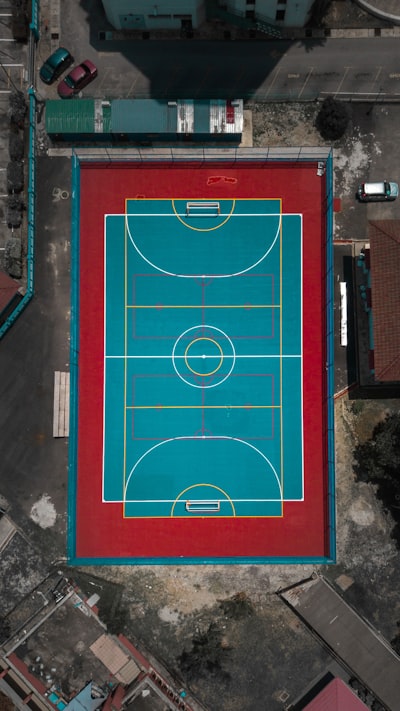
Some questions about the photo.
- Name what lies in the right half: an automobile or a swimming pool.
automobile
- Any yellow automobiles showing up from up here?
No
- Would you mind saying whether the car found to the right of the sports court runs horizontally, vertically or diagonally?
horizontally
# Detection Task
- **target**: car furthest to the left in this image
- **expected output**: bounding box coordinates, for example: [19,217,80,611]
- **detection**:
[39,46,76,86]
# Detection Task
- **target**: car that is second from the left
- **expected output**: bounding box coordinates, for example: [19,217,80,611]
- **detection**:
[58,59,99,99]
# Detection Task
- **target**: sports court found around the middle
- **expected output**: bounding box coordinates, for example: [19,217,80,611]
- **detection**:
[76,162,329,556]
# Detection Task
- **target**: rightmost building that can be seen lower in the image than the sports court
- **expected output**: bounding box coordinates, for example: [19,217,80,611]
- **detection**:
[270,647,374,711]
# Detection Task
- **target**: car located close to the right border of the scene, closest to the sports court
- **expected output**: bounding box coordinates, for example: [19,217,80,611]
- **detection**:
[358,181,399,201]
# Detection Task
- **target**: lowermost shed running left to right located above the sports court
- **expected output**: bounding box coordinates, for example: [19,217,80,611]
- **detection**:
[44,98,242,144]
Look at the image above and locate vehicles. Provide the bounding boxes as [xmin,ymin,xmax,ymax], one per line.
[358,181,399,201]
[58,59,99,99]
[39,46,76,86]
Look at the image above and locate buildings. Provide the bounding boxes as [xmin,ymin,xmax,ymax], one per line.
[211,0,307,28]
[0,499,22,555]
[0,588,209,711]
[356,218,400,392]
[0,269,22,315]
[270,647,374,711]
[103,0,204,28]
[44,98,242,144]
